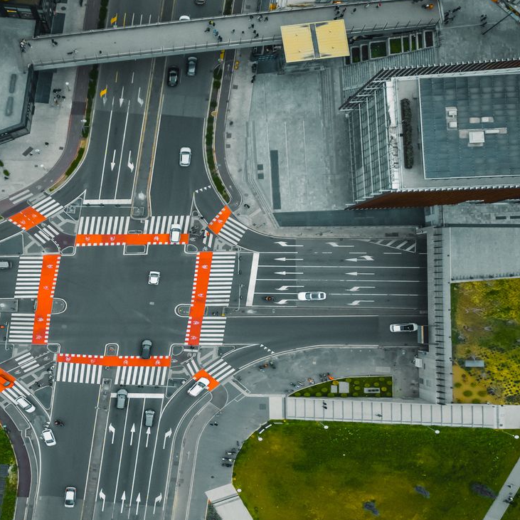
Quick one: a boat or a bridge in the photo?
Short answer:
bridge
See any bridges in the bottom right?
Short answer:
Yes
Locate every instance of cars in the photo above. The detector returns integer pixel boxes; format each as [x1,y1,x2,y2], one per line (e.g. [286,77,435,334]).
[179,146,192,166]
[186,56,199,76]
[0,373,14,390]
[13,396,36,416]
[189,377,210,399]
[391,323,414,333]
[167,64,181,87]
[41,428,57,448]
[170,223,182,243]
[299,291,327,302]
[143,410,156,428]
[63,488,77,509]
[148,270,160,287]
[140,340,153,359]
[116,389,129,409]
[0,261,11,269]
